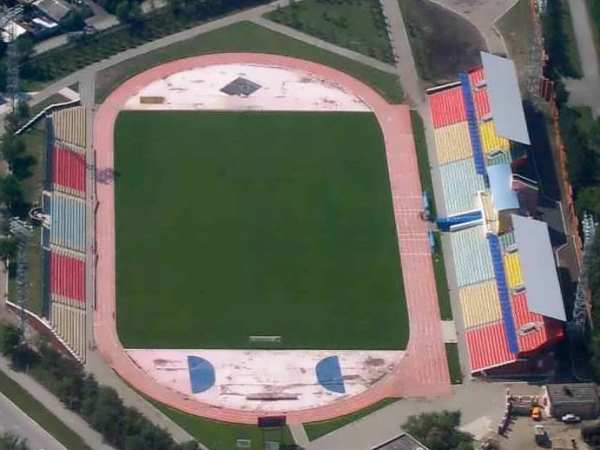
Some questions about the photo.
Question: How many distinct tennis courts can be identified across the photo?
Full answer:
The photo contains no tennis courts.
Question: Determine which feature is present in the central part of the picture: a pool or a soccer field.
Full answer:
The one visible in the central part of the picture is a soccer field.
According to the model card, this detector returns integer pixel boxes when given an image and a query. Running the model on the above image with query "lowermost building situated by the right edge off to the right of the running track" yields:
[542,378,600,418]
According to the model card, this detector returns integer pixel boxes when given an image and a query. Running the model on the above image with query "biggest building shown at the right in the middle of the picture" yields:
[524,171,557,229]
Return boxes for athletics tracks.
[91,52,453,426]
